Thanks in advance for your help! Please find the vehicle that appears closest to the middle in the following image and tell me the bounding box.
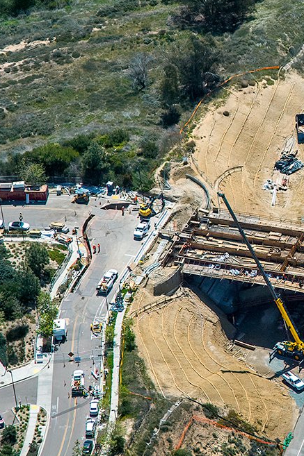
[134,219,149,239]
